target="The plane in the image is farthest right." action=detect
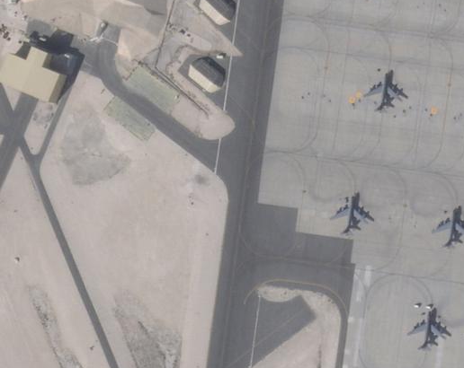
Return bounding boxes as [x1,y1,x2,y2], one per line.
[433,210,464,248]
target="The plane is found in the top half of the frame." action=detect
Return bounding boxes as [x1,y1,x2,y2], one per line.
[365,74,401,112]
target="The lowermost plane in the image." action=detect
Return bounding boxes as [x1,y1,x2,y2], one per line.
[408,312,445,350]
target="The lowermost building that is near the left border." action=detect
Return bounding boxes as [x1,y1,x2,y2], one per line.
[0,47,69,103]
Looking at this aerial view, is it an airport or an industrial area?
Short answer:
airport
